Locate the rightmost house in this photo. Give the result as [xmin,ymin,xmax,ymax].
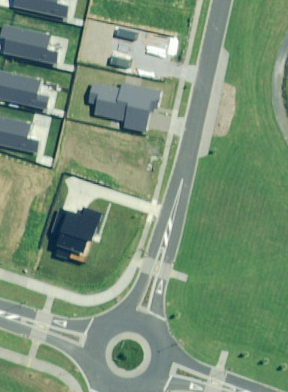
[87,82,162,132]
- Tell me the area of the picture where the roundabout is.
bottom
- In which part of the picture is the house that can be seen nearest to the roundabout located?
left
